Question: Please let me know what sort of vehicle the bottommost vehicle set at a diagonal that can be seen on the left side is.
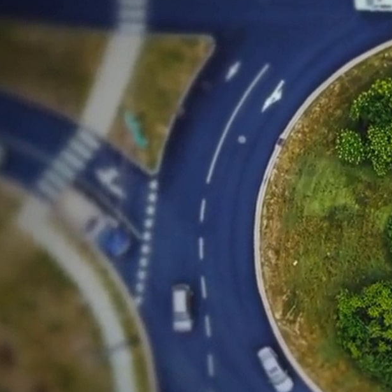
truck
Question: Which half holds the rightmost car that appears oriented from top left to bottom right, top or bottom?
bottom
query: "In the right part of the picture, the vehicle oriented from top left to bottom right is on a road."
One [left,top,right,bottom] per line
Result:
[256,344,295,392]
